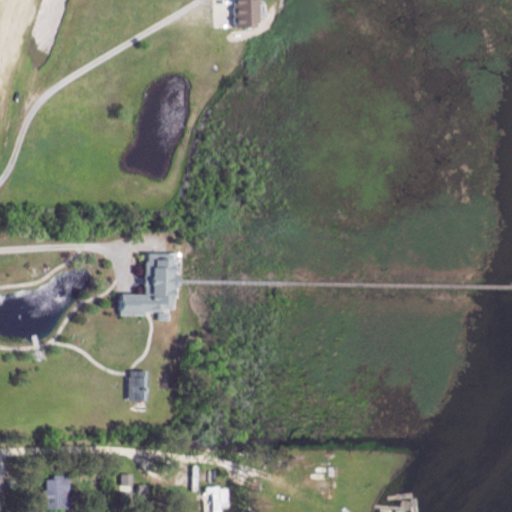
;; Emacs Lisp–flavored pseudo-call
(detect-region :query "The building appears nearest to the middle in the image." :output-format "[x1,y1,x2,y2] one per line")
[117,252,183,322]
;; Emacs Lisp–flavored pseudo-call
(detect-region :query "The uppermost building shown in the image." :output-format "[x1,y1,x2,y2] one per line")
[235,0,267,29]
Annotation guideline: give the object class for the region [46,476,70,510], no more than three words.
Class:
house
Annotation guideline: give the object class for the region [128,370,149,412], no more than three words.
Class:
house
